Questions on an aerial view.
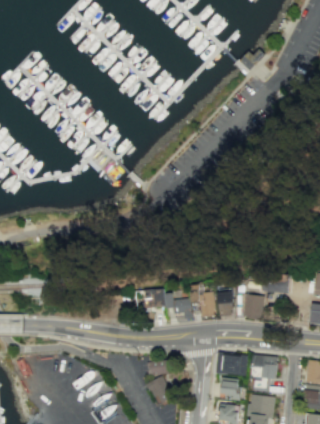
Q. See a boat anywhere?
Yes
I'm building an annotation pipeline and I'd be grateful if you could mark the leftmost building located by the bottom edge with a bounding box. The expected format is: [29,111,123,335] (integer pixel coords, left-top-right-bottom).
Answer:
[147,361,167,405]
